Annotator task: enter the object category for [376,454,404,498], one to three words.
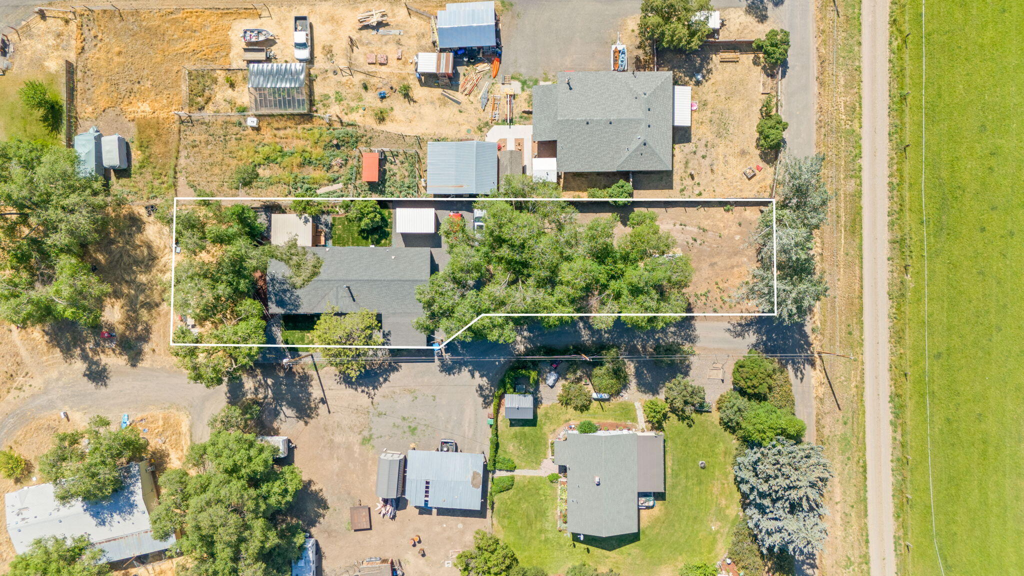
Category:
shed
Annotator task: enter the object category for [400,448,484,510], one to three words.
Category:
building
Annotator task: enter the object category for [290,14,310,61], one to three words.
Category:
vehicle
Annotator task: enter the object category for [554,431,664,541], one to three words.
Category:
house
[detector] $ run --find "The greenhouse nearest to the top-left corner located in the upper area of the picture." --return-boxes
[249,63,311,114]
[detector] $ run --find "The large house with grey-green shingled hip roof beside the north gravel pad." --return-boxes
[533,69,691,183]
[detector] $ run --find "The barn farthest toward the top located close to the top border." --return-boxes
[438,1,496,52]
